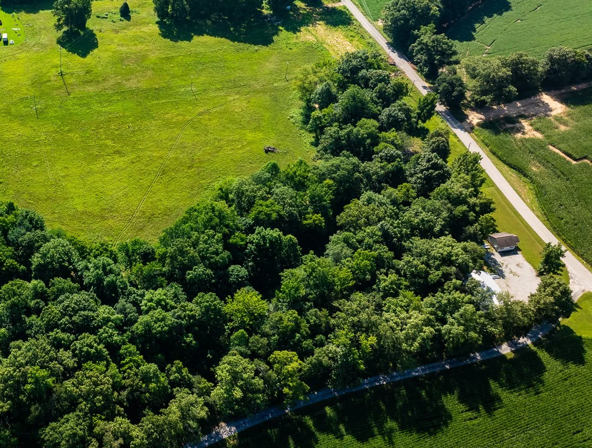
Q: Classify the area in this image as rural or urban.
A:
rural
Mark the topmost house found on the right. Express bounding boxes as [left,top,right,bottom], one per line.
[487,231,520,253]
